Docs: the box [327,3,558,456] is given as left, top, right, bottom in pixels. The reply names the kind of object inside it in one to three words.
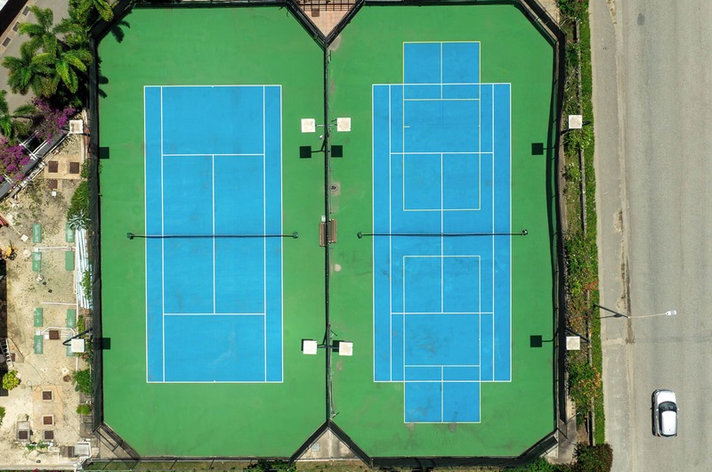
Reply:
tennis court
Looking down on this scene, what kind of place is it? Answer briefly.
sports ground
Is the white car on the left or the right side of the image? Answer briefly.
right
